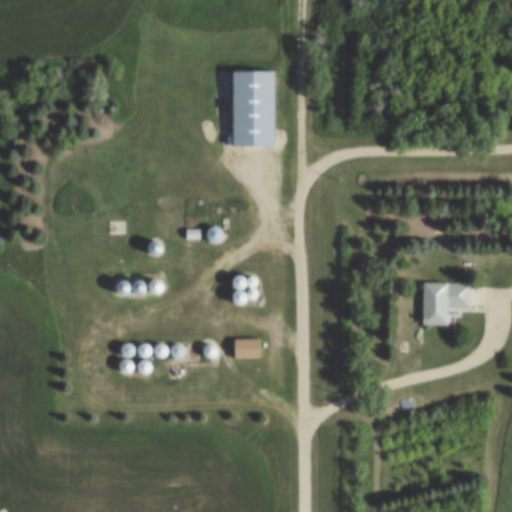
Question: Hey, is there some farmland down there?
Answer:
Yes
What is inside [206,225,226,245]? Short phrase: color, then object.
white silo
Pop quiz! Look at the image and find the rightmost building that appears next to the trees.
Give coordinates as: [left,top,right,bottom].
[424,283,480,327]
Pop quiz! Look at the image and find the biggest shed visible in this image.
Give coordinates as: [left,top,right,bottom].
[232,69,276,146]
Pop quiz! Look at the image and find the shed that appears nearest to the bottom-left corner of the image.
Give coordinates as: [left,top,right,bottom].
[234,340,262,360]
